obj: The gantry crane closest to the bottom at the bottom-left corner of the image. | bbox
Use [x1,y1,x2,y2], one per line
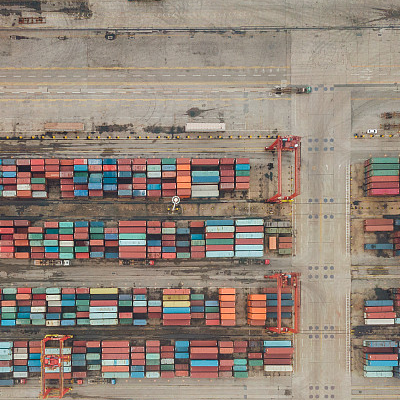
[39,334,73,400]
